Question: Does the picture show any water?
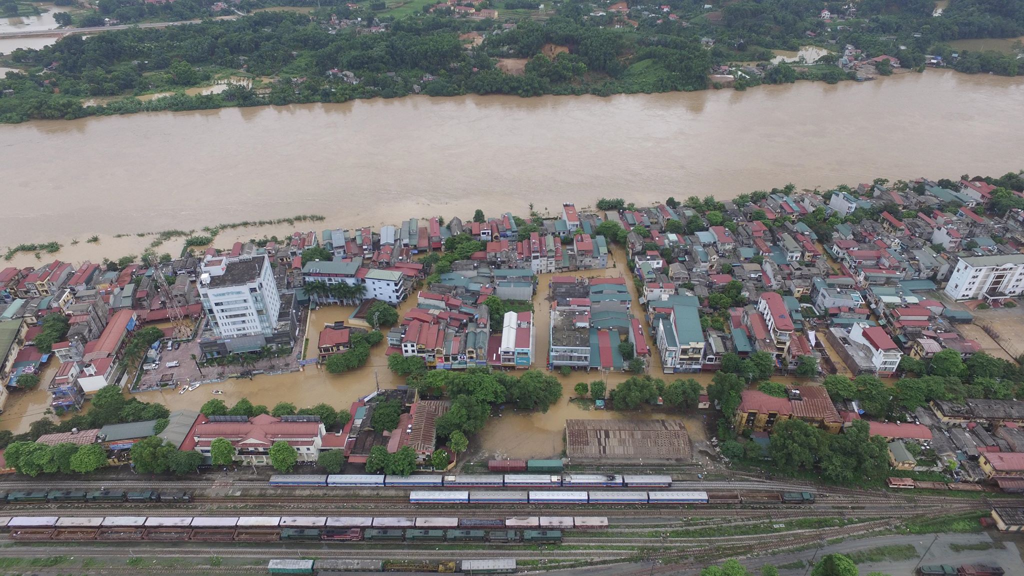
Yes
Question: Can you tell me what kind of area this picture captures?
residential area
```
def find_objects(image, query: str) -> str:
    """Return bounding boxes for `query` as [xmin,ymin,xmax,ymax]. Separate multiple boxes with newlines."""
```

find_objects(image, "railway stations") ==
[193,410,323,464]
